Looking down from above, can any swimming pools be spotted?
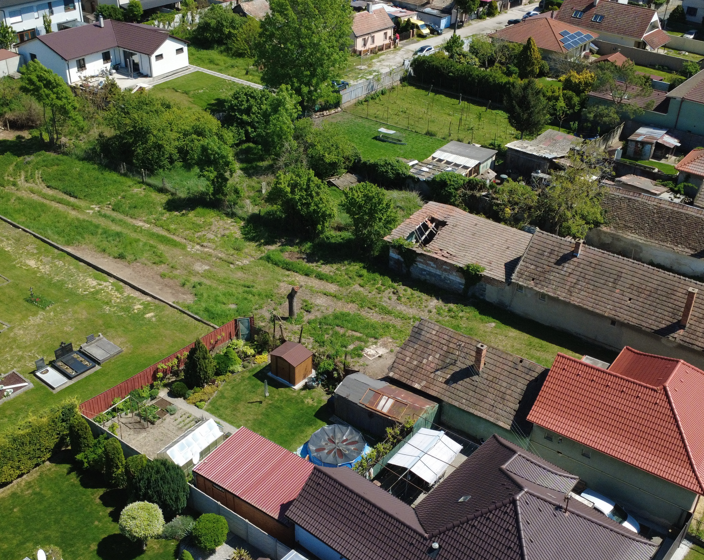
Yes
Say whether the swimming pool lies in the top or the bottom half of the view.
bottom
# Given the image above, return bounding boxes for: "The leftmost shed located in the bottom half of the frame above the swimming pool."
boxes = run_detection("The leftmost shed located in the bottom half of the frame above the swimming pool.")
[266,342,321,395]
